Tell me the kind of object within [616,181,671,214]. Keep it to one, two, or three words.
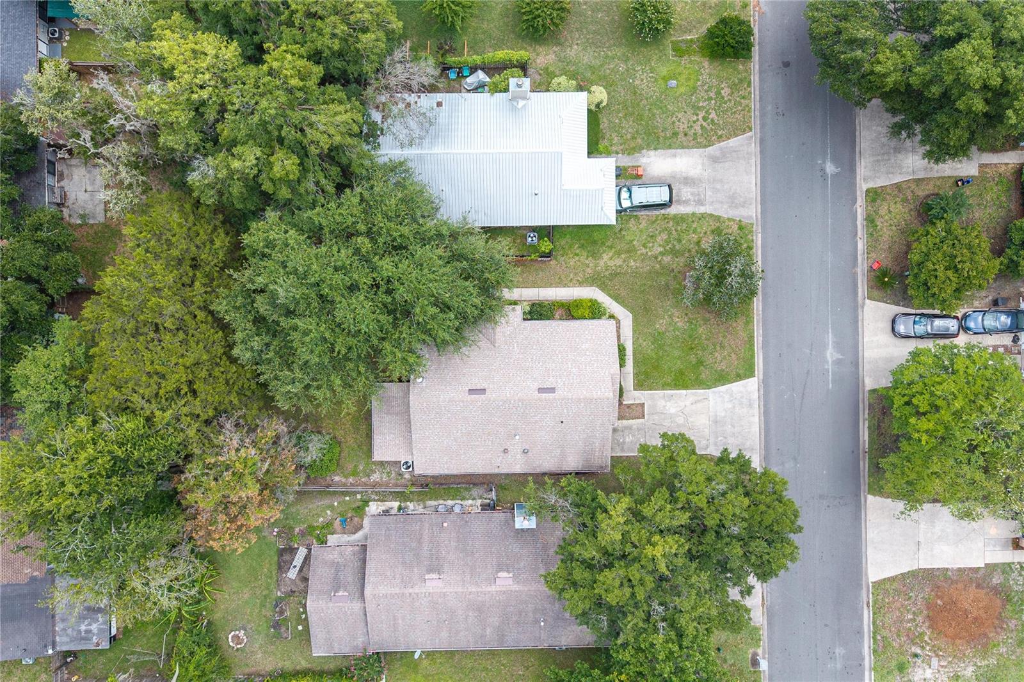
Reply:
car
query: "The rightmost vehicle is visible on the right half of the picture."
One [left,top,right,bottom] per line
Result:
[962,306,1024,337]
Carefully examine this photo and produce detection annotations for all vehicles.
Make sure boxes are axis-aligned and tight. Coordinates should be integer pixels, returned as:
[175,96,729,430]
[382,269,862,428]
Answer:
[616,181,671,214]
[892,309,960,341]
[962,306,1024,337]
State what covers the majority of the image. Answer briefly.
trees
